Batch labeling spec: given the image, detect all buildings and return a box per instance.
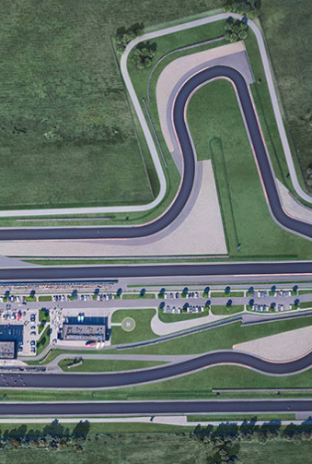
[57,326,106,341]
[0,342,17,359]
